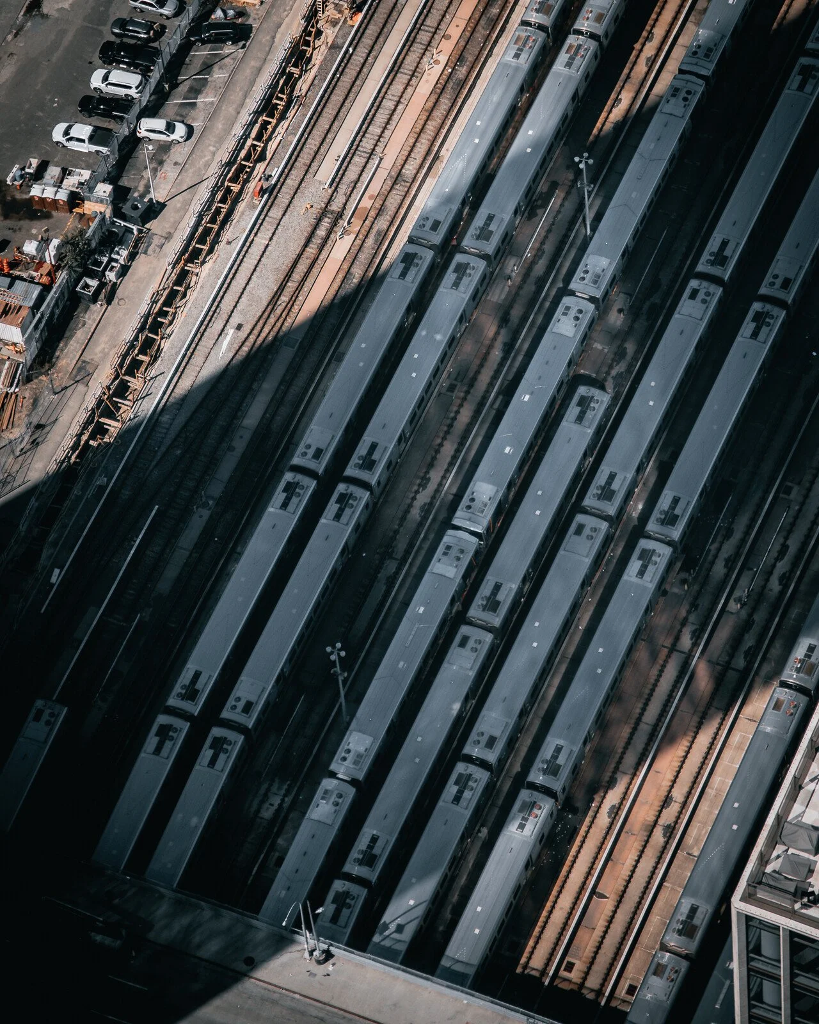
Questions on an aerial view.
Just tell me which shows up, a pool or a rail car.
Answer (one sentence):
Looking from above, you can make out a rail car.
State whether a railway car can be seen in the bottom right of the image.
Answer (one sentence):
Yes, a railway car can be seen in the bottom right of the image.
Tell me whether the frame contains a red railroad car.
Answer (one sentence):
No, the scene contains no red railroad car.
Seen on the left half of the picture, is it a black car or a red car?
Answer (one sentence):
There is a black car on the left half of the picture.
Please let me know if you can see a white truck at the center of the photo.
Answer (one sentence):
No, I can find no white truck at the center of the photo.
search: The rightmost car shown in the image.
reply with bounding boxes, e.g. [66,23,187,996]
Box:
[188,23,244,53]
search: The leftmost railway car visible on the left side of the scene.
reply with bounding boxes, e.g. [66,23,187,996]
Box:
[0,699,71,833]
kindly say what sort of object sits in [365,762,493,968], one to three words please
rail car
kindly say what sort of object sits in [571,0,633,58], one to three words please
rail car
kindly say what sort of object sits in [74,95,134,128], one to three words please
truck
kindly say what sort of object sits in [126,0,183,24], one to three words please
car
